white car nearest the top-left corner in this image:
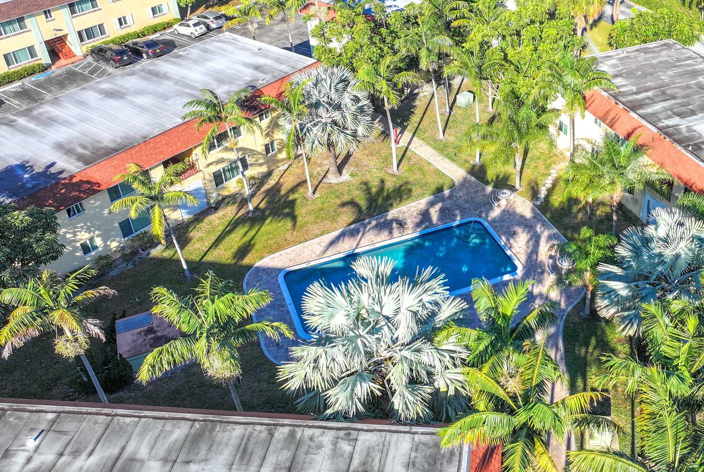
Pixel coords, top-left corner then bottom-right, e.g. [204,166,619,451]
[173,19,208,40]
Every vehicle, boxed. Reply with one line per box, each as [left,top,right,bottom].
[92,45,138,72]
[195,11,234,33]
[121,39,165,62]
[173,19,208,40]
